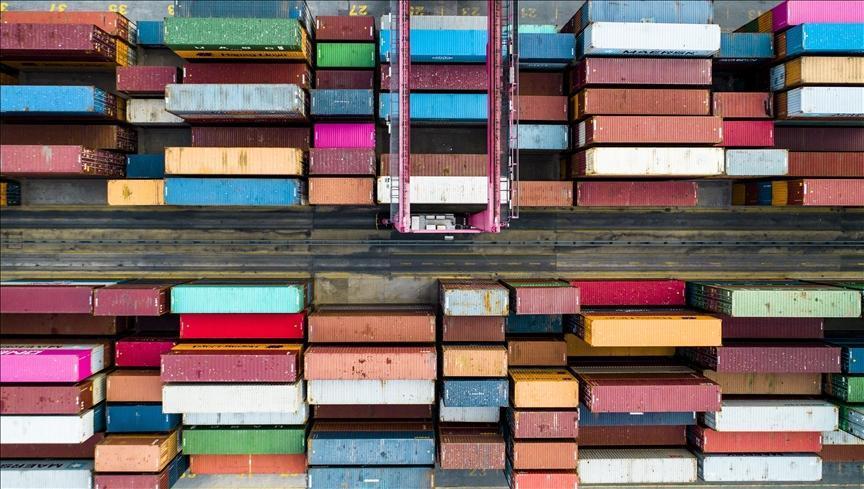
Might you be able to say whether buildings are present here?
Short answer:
No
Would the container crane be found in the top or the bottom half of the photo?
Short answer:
top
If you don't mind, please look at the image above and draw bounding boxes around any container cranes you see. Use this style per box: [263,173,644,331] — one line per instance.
[373,0,525,234]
